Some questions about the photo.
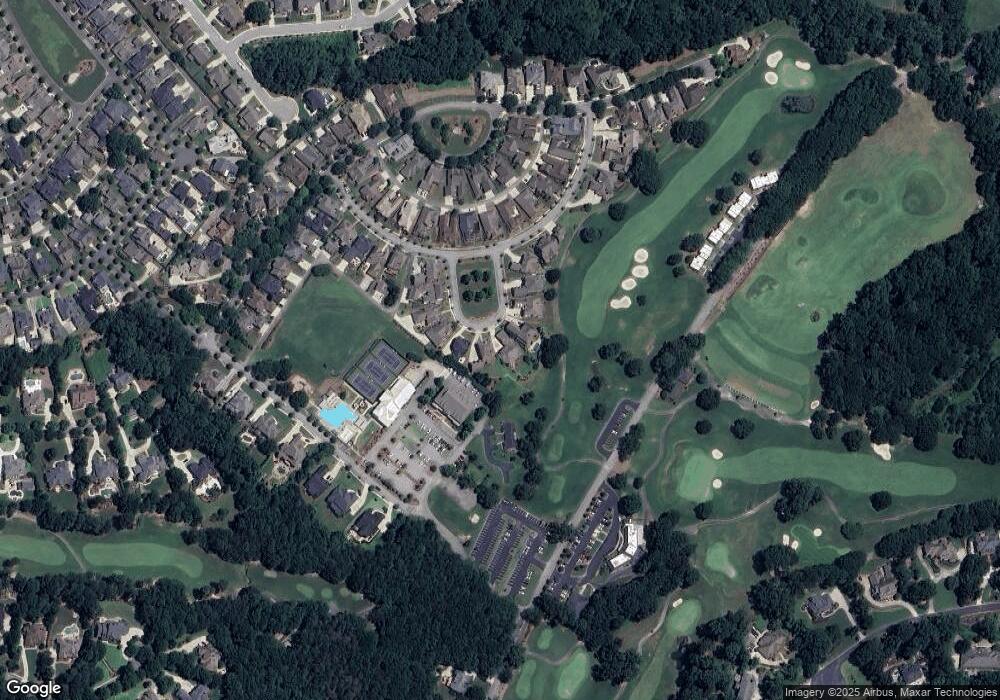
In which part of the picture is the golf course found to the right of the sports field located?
right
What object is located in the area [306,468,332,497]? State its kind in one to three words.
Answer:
house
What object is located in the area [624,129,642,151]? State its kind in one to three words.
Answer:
house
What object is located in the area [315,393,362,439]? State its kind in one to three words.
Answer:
swimming pool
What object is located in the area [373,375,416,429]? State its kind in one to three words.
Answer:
building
